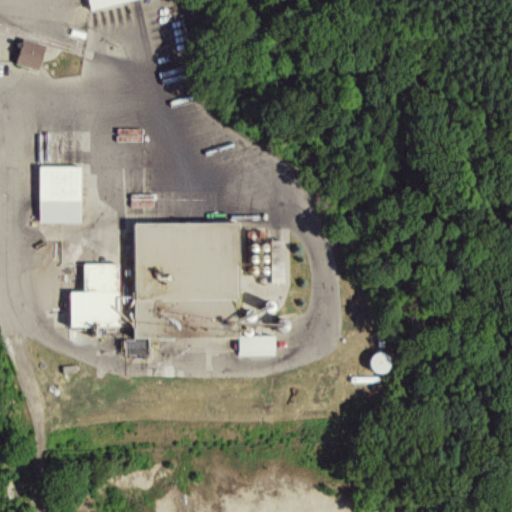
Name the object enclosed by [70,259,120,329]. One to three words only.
building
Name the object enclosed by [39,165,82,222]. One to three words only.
shed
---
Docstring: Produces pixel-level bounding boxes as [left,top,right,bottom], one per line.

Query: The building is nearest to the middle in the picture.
[134,222,240,338]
